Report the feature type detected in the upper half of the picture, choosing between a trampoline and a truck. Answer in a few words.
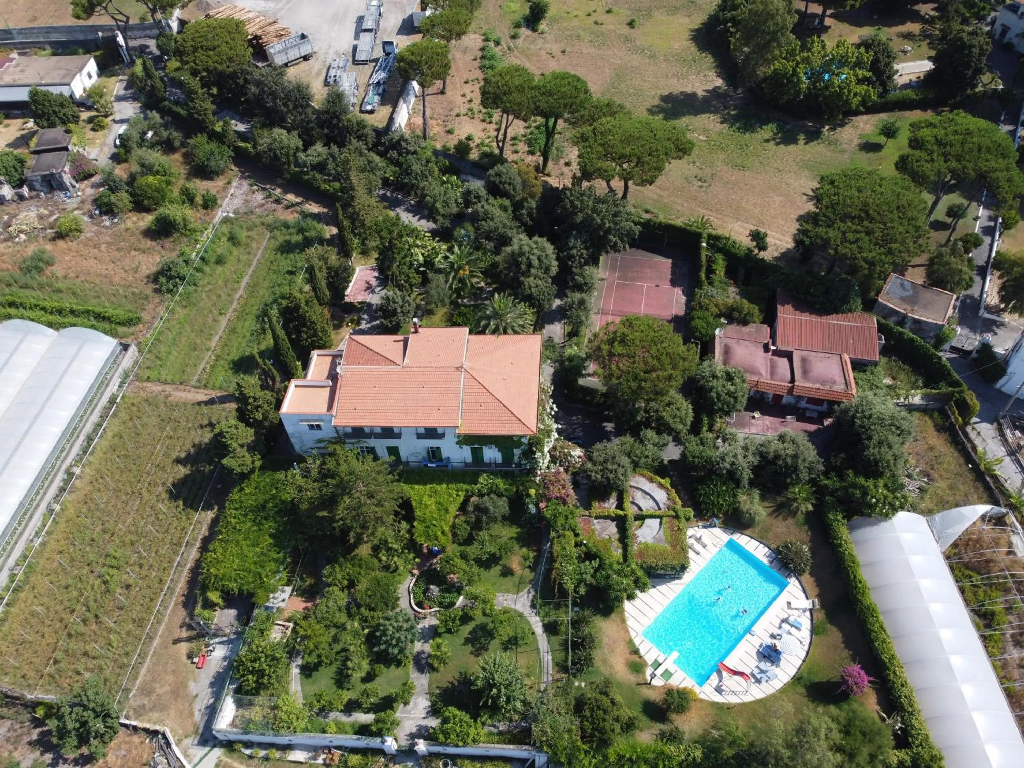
truck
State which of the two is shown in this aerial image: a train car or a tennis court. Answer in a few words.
tennis court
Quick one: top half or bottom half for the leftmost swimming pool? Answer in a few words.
bottom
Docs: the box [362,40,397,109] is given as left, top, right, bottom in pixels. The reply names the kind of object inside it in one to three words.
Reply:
truck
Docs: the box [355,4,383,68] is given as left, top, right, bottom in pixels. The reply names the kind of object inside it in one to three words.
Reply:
truck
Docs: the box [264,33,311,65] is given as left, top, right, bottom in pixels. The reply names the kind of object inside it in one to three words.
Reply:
trailer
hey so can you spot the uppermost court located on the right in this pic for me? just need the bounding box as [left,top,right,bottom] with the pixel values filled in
[586,240,709,418]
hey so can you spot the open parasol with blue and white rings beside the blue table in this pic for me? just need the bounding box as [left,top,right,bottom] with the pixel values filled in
[777,634,802,658]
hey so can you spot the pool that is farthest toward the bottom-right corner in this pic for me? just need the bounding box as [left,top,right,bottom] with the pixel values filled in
[636,533,796,693]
